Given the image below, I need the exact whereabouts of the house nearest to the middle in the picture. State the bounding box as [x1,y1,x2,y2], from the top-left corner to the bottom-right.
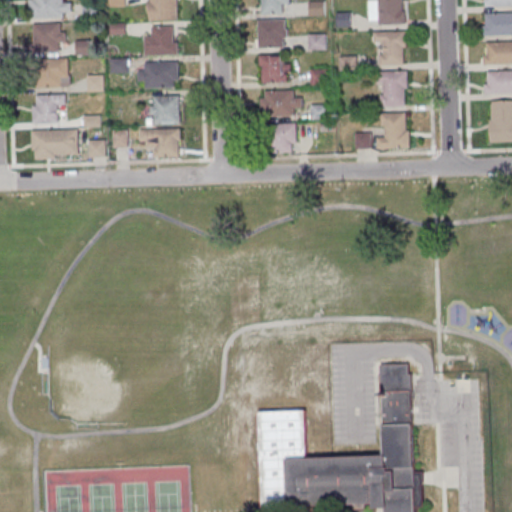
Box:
[272,123,296,154]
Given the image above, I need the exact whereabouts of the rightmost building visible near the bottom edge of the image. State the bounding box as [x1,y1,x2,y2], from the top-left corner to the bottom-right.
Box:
[284,363,423,512]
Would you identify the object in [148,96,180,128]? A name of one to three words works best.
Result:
house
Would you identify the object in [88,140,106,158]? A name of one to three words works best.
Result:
building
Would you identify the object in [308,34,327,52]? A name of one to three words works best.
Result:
building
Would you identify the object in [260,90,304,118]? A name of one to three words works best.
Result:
house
